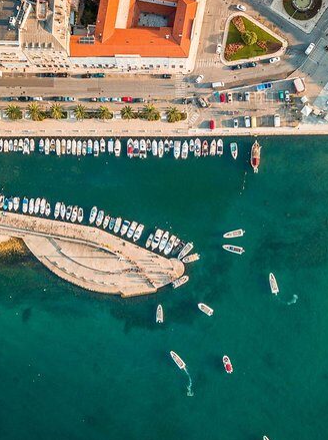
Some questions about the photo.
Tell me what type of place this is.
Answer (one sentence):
This looks like a port.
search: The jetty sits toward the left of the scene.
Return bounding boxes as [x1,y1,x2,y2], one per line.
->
[0,210,185,297]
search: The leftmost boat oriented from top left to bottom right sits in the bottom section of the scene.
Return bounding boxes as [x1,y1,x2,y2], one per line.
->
[170,351,187,370]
